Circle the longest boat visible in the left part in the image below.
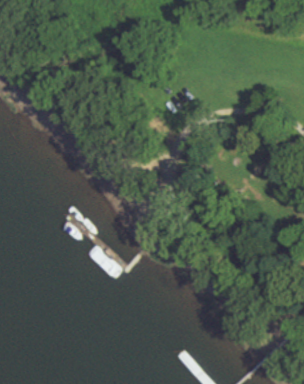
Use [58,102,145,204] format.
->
[90,246,122,278]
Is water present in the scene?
Yes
